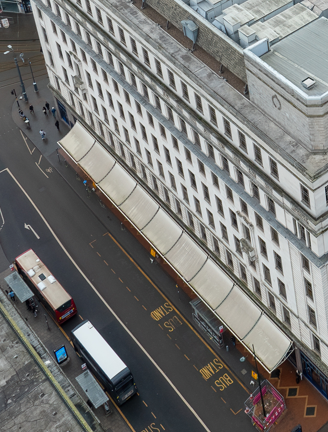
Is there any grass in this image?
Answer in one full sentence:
No, no grass is visible.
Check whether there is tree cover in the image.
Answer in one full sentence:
No, the scene doesn't show any tree cover.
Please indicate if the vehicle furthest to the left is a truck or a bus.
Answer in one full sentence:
The vehicle furthest to the left is a bus.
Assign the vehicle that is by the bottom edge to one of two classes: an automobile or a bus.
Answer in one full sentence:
Looking closely, the vehicle that is by the bottom edge is a bus.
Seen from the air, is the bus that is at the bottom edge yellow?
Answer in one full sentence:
No, the color of the bus that is at the bottom edge is white.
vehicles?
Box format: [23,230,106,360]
[16,252,78,324]
[69,322,140,410]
